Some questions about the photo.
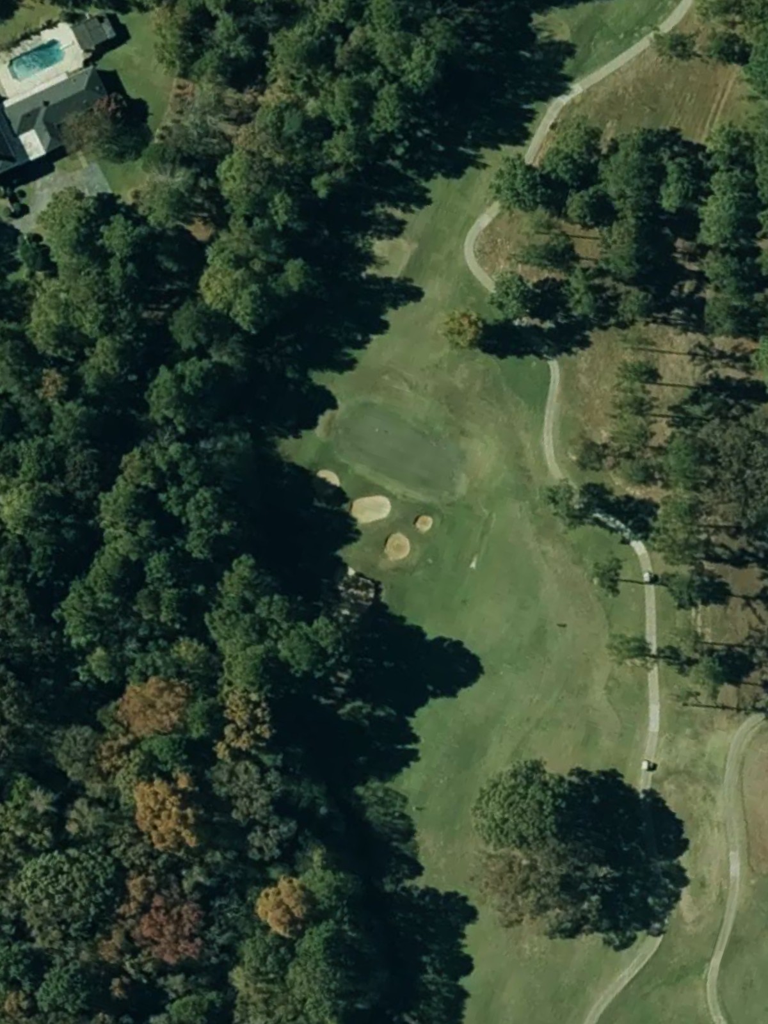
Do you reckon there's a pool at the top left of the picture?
Yes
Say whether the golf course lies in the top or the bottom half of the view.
bottom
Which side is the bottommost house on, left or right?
left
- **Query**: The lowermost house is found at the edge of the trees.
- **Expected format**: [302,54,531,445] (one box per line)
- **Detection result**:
[0,66,105,174]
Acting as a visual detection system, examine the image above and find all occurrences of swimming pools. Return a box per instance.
[7,38,73,82]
